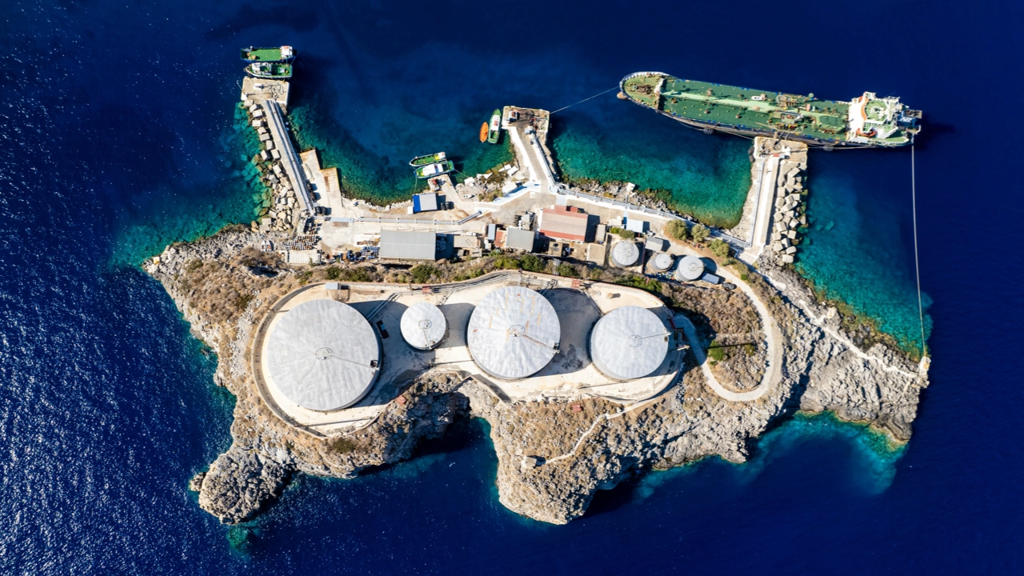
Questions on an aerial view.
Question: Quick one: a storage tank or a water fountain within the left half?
storage tank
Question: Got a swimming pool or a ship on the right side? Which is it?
ship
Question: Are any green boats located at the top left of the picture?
Yes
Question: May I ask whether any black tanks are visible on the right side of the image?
No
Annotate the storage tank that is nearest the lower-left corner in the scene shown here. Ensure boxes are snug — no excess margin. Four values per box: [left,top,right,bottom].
[267,299,381,411]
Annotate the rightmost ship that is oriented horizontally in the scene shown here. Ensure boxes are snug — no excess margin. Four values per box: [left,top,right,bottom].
[619,74,922,153]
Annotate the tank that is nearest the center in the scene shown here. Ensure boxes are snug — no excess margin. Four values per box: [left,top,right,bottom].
[466,286,560,380]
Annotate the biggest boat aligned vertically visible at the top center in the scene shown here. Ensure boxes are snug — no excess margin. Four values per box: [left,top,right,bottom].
[487,109,501,145]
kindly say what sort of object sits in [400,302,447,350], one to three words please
storage tank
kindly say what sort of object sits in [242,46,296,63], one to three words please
boat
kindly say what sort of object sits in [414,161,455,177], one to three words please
boat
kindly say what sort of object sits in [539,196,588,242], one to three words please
building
